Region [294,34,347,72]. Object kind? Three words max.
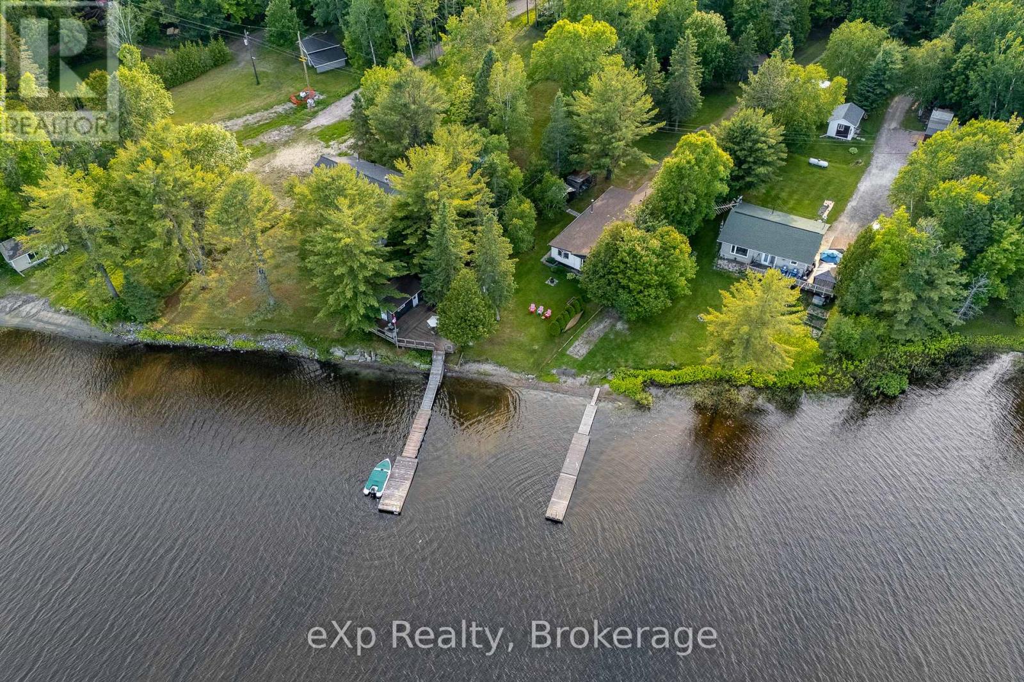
building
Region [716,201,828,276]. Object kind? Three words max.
house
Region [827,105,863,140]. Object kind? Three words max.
shed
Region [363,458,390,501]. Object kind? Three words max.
boat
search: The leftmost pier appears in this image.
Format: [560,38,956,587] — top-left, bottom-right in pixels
[379,353,446,515]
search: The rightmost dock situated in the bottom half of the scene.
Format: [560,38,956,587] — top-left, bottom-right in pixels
[544,387,600,523]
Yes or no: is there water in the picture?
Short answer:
Yes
